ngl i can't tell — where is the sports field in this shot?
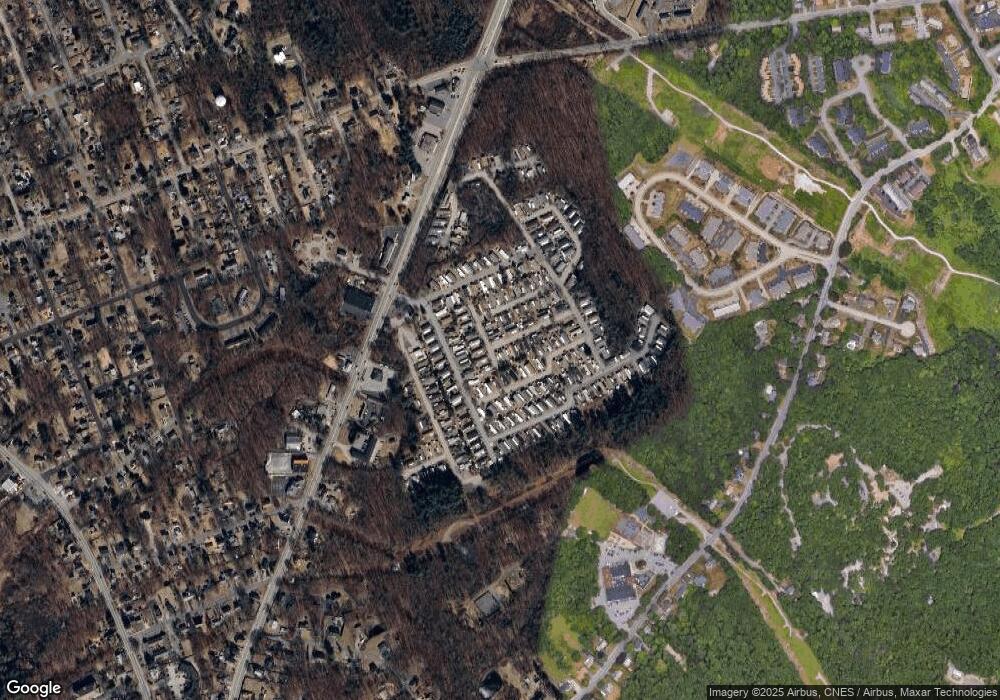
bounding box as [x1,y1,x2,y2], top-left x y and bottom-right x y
[571,488,618,538]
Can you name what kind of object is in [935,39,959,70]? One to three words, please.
building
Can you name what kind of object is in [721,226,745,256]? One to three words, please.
building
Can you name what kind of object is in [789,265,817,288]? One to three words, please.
house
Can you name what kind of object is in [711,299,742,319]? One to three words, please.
house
